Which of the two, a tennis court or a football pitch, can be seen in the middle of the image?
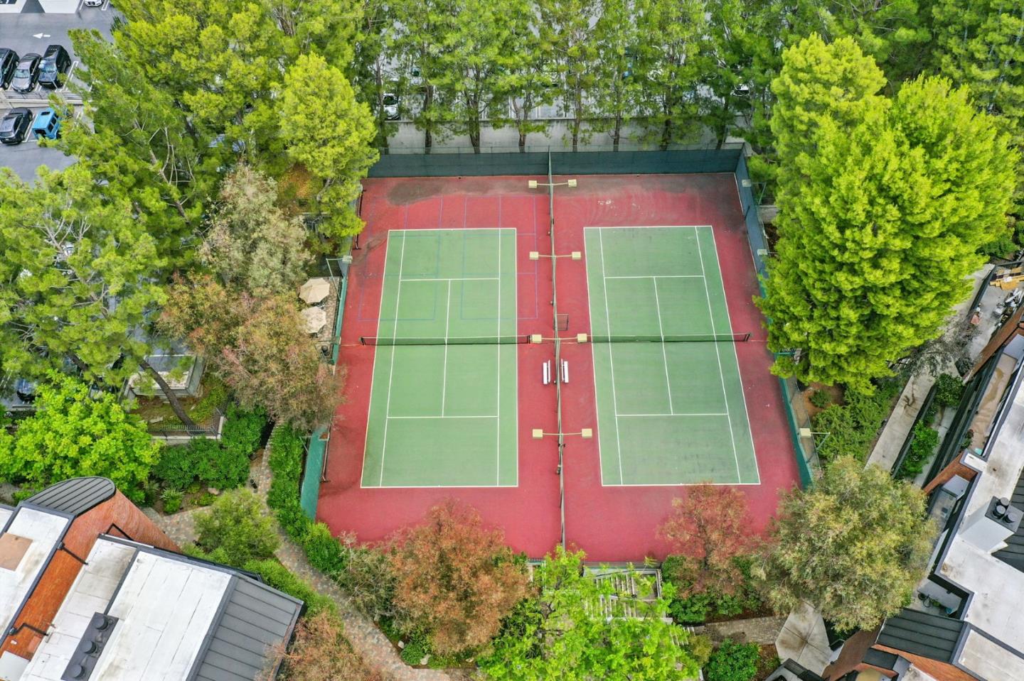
tennis court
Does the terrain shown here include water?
No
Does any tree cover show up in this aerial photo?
Yes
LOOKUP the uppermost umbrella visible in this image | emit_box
[299,279,331,311]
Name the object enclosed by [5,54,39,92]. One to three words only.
car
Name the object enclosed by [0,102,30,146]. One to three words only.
car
